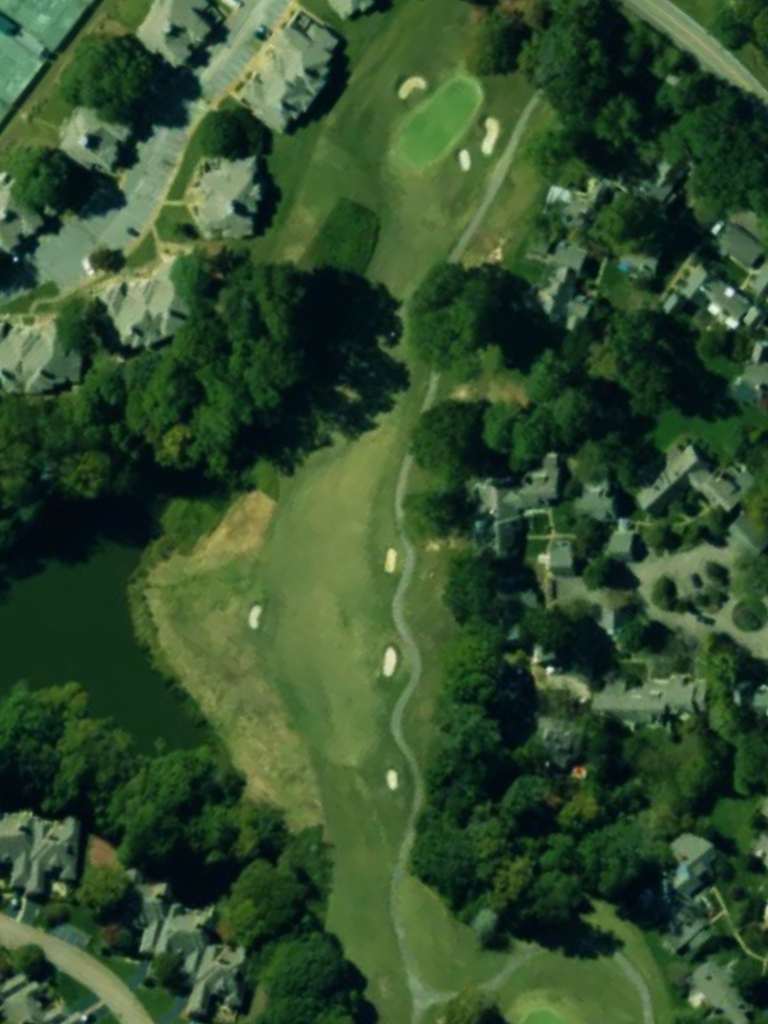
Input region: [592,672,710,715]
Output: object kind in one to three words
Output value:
house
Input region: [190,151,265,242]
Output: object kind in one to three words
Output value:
building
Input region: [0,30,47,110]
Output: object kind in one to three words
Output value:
tennis court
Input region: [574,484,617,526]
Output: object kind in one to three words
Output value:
house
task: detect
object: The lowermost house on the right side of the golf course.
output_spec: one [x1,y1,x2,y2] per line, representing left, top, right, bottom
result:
[691,955,750,1024]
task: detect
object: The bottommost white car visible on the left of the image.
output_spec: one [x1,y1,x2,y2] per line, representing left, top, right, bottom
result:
[83,258,96,274]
